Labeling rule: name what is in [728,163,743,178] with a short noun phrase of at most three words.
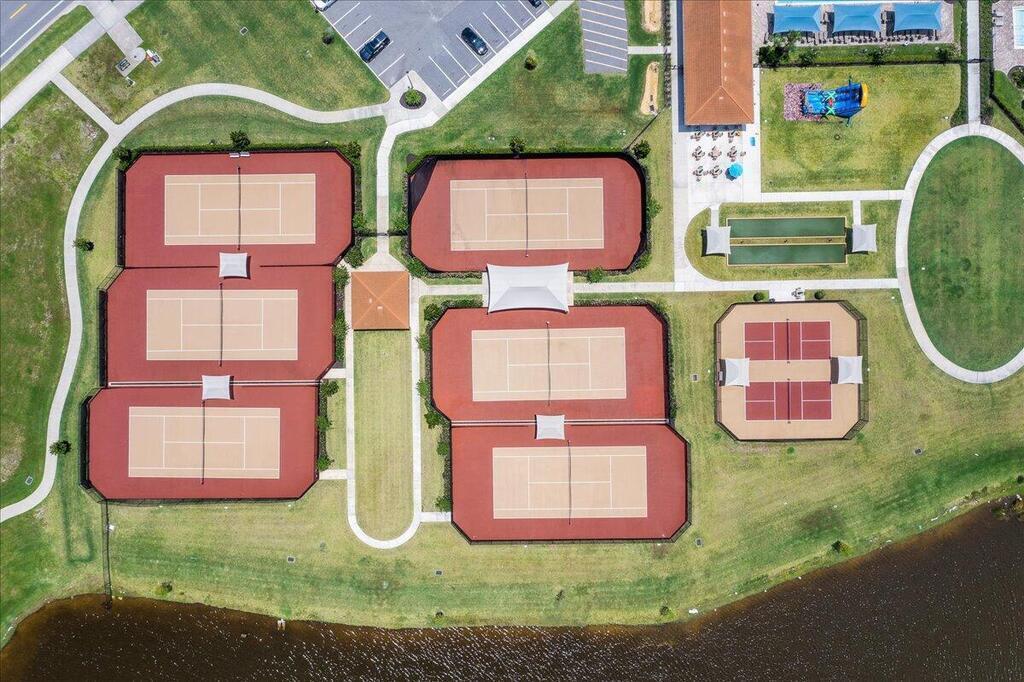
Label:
umbrella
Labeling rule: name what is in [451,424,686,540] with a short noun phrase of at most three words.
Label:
tennis court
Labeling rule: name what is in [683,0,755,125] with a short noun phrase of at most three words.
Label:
building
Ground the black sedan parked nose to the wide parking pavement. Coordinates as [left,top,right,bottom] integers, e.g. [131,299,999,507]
[460,27,488,57]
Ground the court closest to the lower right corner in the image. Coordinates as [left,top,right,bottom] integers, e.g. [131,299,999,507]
[746,378,832,423]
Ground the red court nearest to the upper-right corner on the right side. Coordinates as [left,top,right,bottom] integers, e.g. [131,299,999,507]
[745,318,831,363]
